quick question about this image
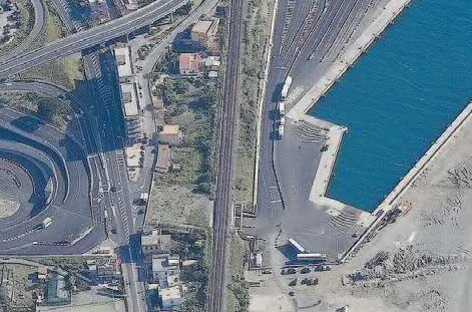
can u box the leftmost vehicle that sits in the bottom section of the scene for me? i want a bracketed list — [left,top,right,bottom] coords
[40,215,54,229]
